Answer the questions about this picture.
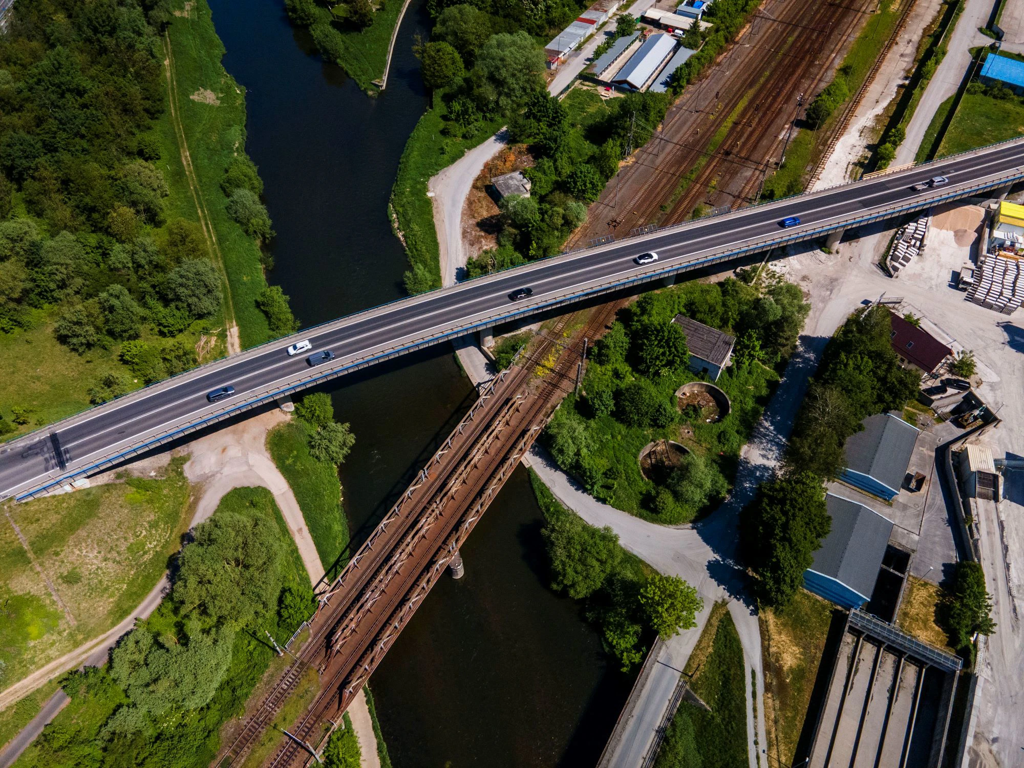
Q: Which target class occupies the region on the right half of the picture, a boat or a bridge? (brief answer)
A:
bridge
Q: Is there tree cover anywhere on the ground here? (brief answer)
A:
Yes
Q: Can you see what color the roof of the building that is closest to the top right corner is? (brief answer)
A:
blue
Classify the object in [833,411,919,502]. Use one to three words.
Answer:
shed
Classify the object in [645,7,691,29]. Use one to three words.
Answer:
building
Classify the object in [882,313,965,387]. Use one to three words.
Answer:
house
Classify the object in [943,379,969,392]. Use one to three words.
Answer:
vehicle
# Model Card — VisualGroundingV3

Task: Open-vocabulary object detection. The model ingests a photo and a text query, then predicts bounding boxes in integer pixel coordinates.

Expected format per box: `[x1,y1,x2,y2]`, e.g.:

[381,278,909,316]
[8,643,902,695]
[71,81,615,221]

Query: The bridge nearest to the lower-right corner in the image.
[849,599,967,664]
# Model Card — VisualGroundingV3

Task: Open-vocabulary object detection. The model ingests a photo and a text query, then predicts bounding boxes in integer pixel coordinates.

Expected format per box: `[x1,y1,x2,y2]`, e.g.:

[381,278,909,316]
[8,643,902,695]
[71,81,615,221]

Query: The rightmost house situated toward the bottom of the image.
[956,444,998,519]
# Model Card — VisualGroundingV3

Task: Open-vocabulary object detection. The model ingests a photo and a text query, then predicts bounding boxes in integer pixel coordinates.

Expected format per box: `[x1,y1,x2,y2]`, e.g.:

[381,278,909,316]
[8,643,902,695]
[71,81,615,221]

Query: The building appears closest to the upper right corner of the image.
[979,53,1024,98]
